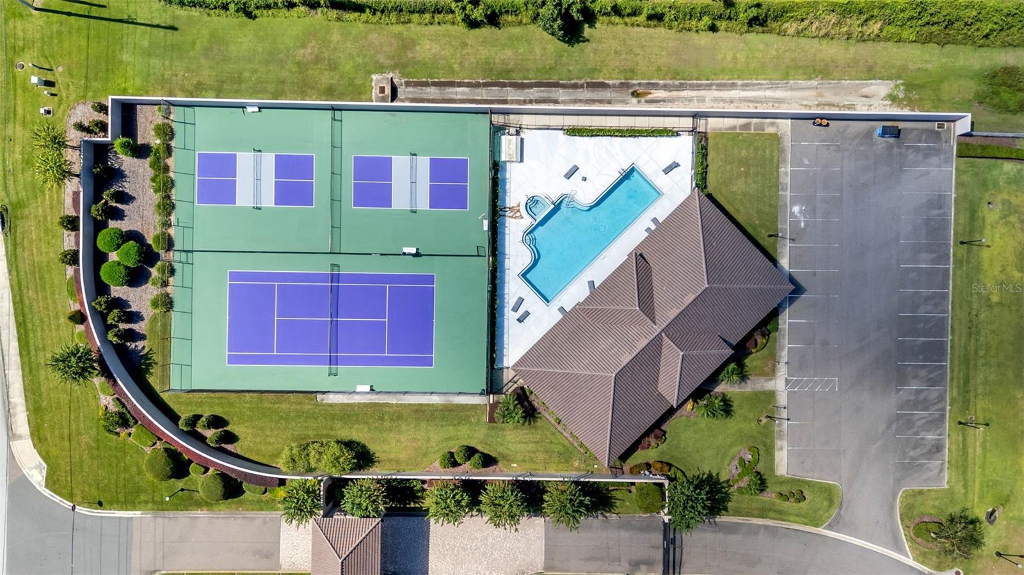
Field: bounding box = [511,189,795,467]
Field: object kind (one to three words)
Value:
building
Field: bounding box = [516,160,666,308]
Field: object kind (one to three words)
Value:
swimming pool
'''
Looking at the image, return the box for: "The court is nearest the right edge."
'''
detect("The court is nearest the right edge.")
[352,155,469,210]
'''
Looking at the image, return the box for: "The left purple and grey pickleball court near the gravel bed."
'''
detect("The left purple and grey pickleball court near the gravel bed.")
[196,152,315,207]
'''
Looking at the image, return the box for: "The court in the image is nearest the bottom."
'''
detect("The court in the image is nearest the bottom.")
[226,271,436,367]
